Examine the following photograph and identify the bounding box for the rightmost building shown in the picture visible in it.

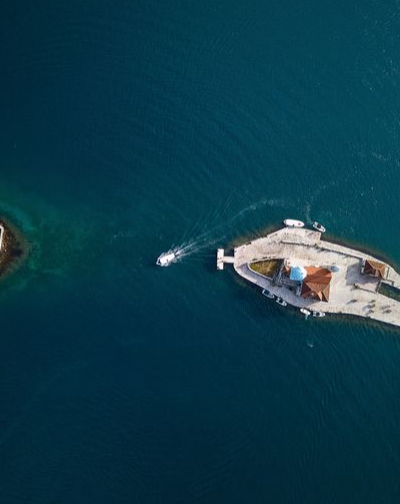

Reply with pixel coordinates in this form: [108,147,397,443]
[361,260,385,279]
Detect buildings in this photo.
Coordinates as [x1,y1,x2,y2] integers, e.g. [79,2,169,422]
[361,260,385,279]
[283,266,331,302]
